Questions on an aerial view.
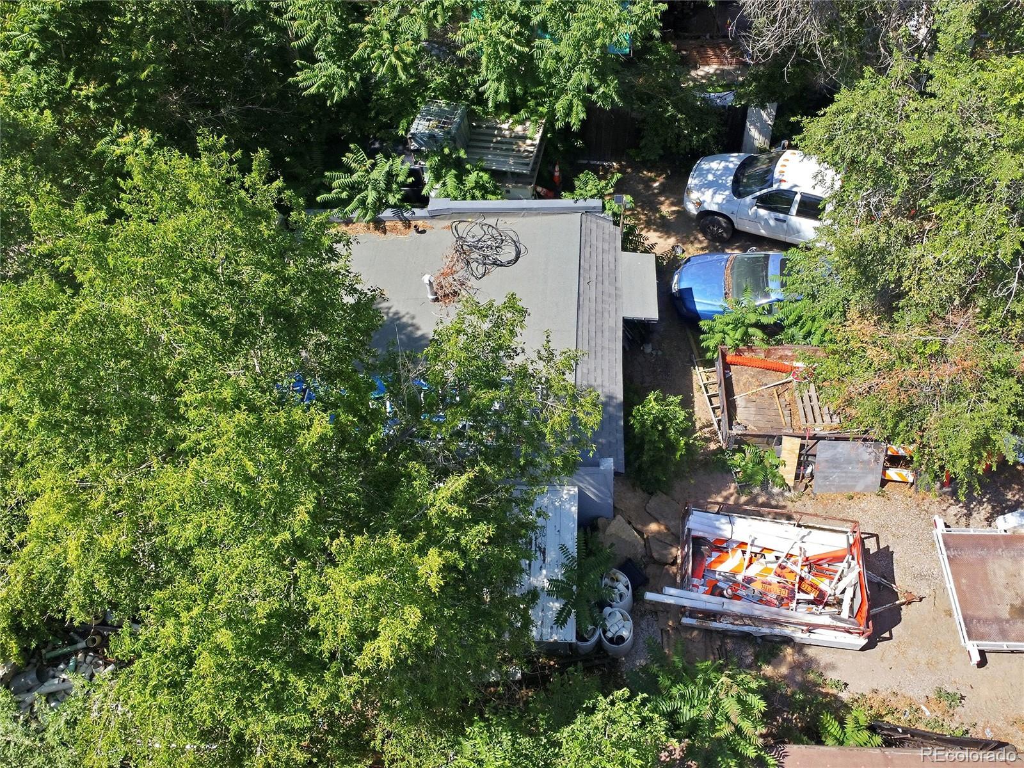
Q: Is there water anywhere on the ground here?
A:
No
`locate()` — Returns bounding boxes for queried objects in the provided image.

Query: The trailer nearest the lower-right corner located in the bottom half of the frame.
[932,515,1024,665]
